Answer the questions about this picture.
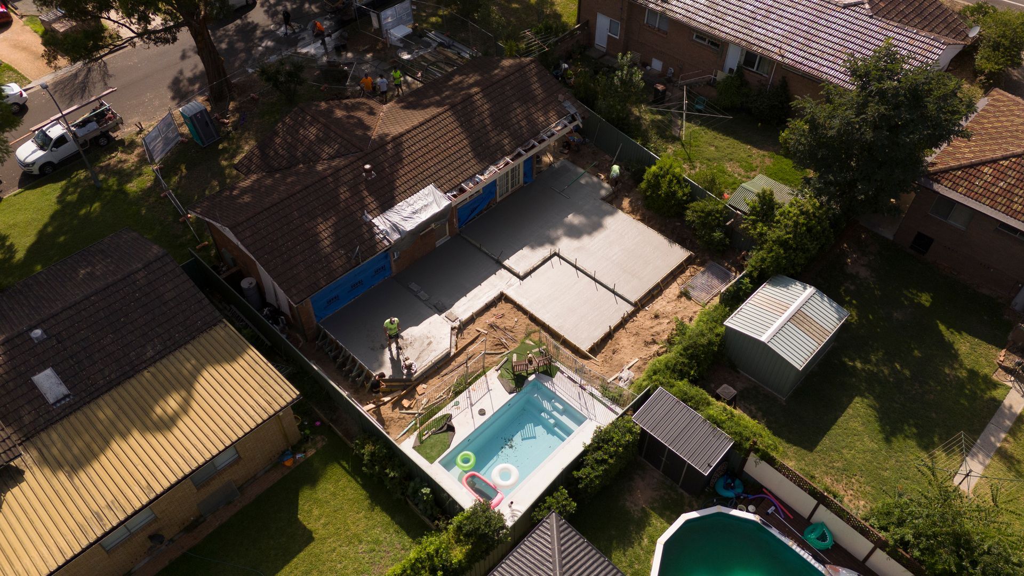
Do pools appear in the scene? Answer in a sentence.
Yes, this view includes a pool.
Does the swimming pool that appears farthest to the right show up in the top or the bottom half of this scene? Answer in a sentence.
It is in the bottom half that the swimming pool that appears farthest to the right appears.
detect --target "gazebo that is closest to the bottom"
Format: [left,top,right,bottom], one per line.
[489,511,627,576]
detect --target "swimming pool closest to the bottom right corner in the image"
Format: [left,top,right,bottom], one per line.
[658,510,830,576]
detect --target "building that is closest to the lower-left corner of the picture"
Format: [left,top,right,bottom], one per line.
[0,223,305,576]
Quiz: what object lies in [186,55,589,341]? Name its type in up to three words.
house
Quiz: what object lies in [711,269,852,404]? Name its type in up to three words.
shed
